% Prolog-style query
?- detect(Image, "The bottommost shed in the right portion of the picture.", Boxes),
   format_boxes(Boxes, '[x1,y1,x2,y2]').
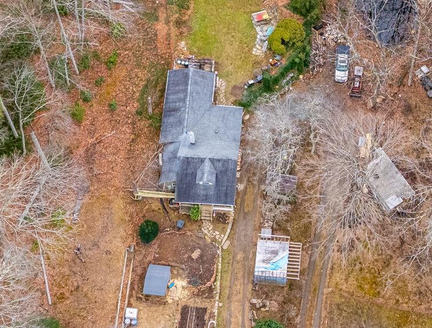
[254,233,302,288]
